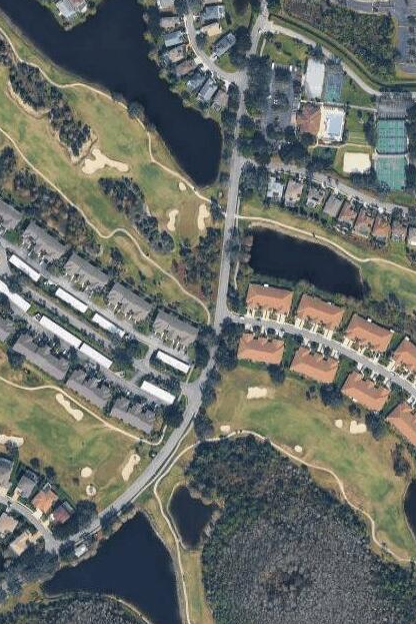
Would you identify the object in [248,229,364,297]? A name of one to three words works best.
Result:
pond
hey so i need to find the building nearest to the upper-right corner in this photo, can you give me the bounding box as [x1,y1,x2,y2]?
[292,104,321,133]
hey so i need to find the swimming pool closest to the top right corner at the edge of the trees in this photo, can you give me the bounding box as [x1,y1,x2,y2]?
[317,104,345,142]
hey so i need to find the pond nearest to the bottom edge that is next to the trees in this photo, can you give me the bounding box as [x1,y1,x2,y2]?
[170,486,219,549]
